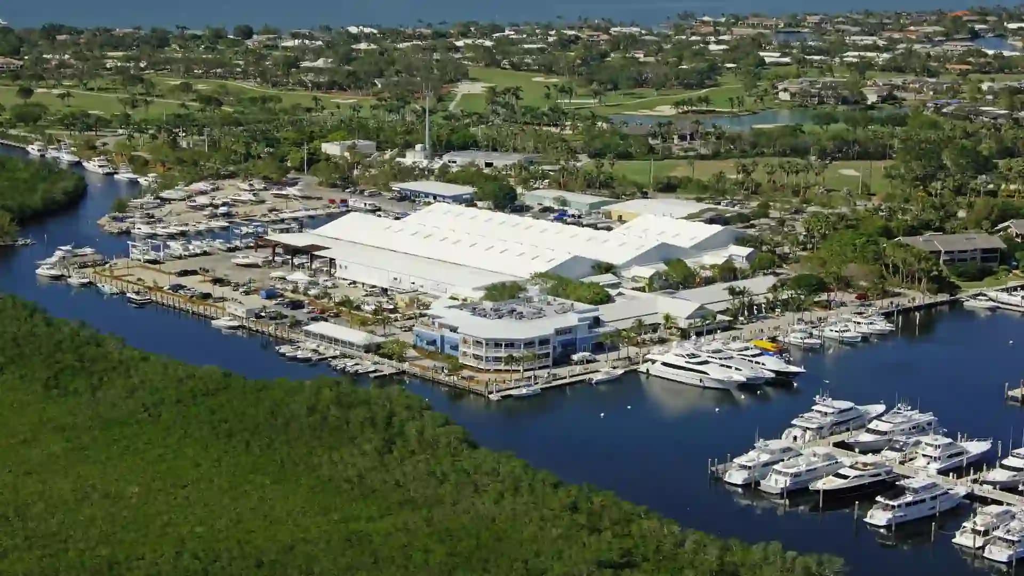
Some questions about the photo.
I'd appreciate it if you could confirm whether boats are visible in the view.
Yes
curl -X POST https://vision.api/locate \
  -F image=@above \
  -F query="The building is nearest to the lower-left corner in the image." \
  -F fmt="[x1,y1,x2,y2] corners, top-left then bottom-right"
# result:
[226,296,272,330]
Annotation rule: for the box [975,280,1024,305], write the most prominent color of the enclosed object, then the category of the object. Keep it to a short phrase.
white boat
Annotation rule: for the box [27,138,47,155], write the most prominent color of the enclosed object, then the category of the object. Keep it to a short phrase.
white boat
